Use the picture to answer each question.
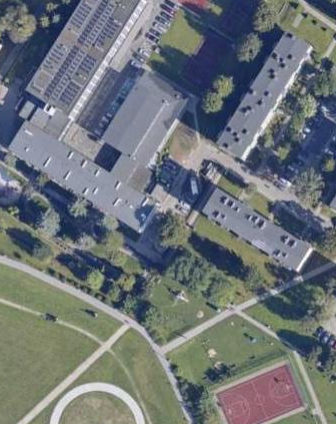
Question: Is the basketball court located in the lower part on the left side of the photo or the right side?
right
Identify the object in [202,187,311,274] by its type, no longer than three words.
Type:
building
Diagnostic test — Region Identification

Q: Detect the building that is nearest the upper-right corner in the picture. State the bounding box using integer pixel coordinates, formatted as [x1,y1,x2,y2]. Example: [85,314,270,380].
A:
[216,33,313,162]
